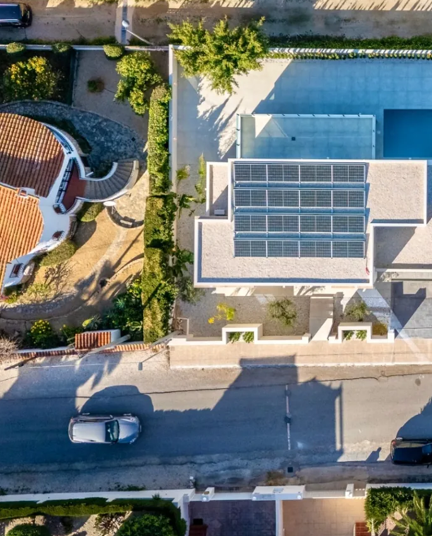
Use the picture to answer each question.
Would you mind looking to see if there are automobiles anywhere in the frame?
Yes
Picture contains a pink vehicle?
No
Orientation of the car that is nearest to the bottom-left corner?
from side to side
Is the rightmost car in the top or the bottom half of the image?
bottom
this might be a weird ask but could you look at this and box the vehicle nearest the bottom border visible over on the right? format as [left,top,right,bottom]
[392,437,432,468]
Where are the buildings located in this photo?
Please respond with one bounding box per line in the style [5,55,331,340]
[0,113,150,296]
[196,113,432,286]
[75,325,130,350]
